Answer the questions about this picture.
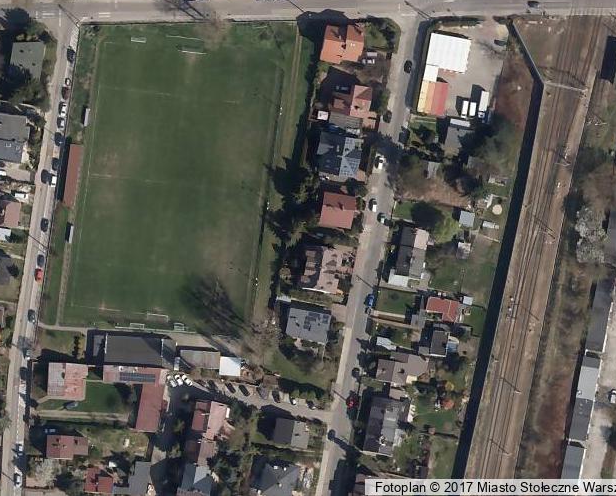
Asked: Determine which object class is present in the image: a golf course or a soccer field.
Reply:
soccer field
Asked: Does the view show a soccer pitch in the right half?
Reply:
No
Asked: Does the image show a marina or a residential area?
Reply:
residential area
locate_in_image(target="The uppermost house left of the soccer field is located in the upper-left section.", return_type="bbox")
[10,42,45,79]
